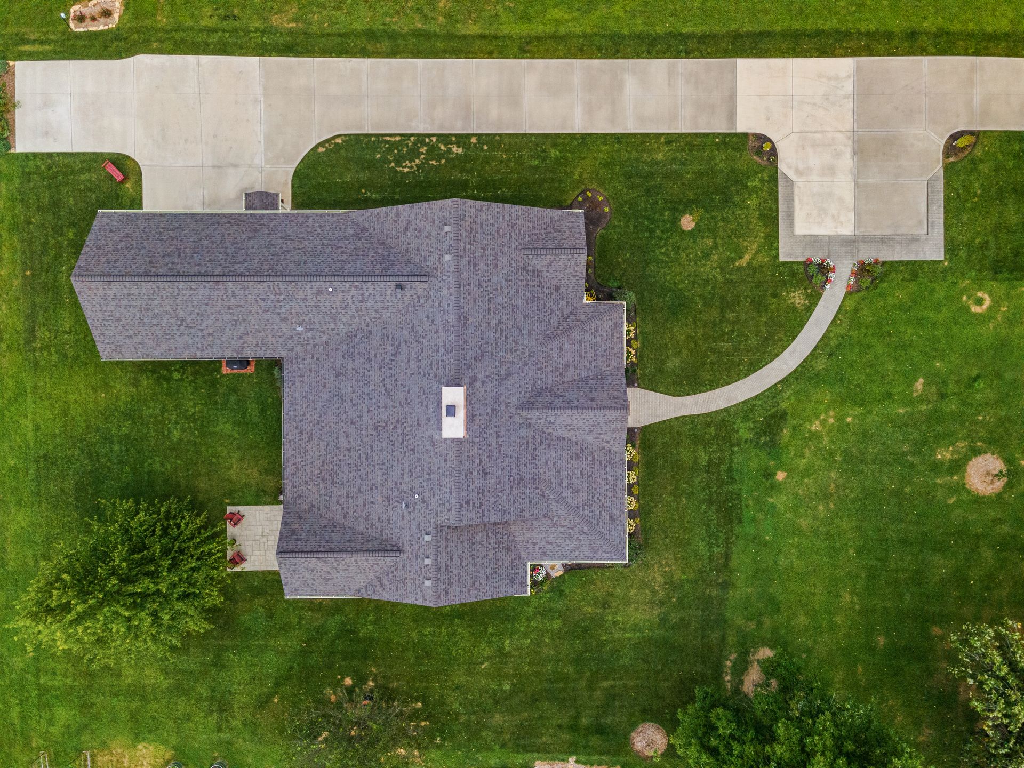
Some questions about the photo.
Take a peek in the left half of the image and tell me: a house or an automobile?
house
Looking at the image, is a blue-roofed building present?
No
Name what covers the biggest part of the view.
grass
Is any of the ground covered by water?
No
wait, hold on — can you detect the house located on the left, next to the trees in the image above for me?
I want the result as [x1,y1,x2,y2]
[71,191,628,607]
